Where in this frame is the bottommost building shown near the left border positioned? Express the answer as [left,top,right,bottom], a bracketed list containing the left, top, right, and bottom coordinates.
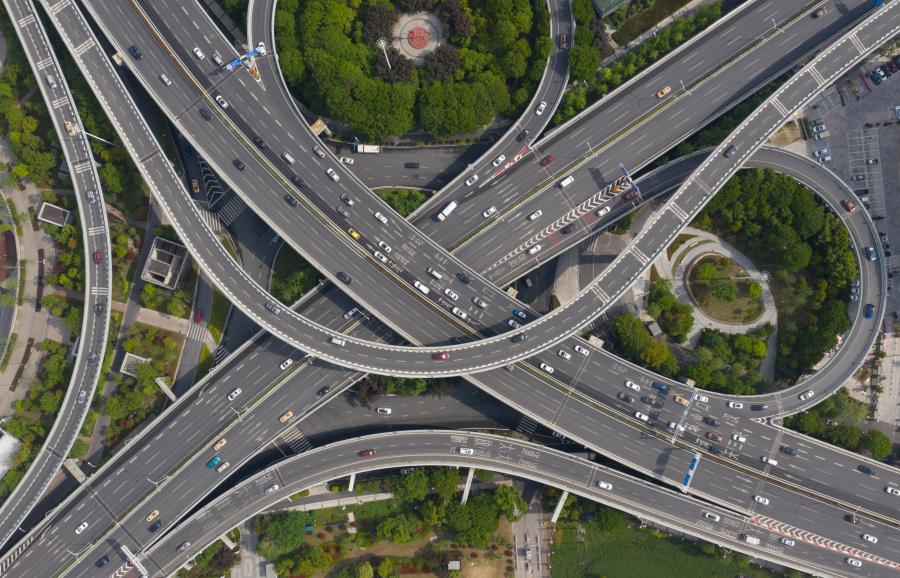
[0,426,32,488]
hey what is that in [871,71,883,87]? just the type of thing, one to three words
vehicle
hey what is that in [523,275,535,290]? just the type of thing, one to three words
vehicle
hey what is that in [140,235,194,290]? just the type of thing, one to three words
building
